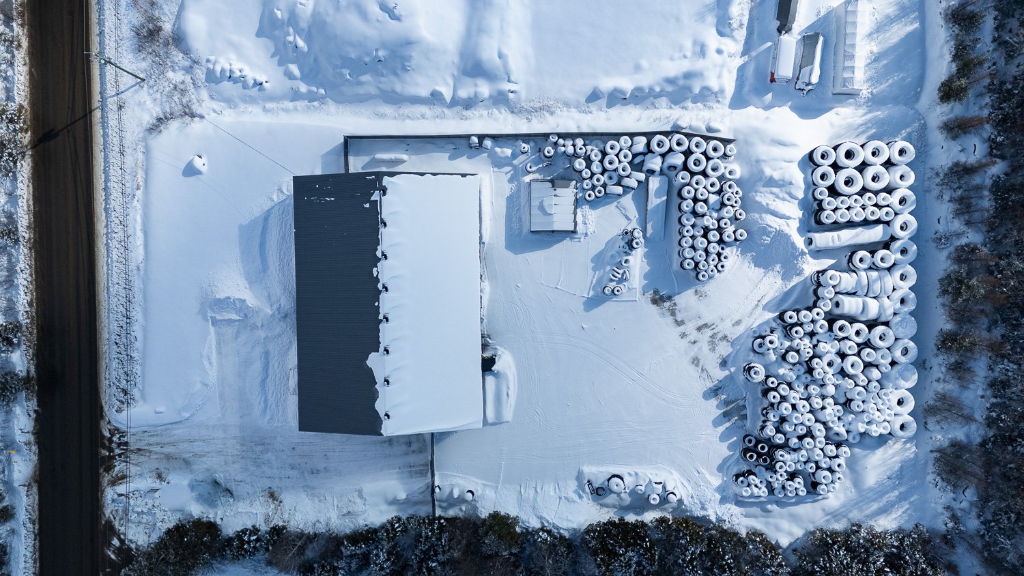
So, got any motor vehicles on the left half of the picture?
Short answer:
No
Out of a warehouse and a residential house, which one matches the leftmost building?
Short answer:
warehouse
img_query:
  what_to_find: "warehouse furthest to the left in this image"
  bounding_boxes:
[293,170,483,437]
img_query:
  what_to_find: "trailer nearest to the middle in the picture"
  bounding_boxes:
[645,171,668,241]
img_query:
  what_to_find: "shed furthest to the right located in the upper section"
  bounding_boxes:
[531,179,577,232]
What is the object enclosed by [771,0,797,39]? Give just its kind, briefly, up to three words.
trailer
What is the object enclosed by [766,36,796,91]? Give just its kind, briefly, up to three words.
truck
